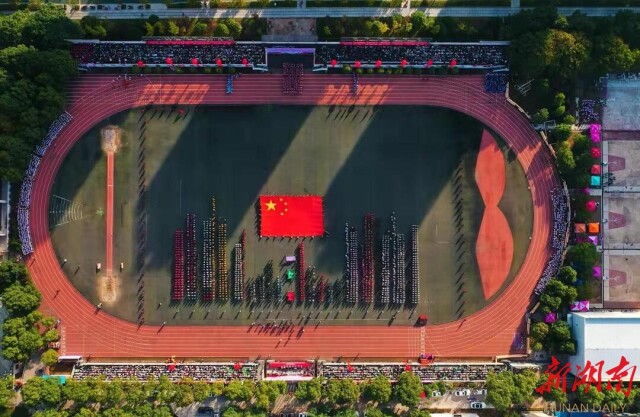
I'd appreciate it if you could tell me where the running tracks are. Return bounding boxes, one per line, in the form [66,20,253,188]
[16,71,564,358]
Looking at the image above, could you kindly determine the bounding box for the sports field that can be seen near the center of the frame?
[50,104,531,324]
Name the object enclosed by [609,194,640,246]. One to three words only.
basketball court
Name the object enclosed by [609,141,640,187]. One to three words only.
basketball court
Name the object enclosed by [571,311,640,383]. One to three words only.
building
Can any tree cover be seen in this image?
Yes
